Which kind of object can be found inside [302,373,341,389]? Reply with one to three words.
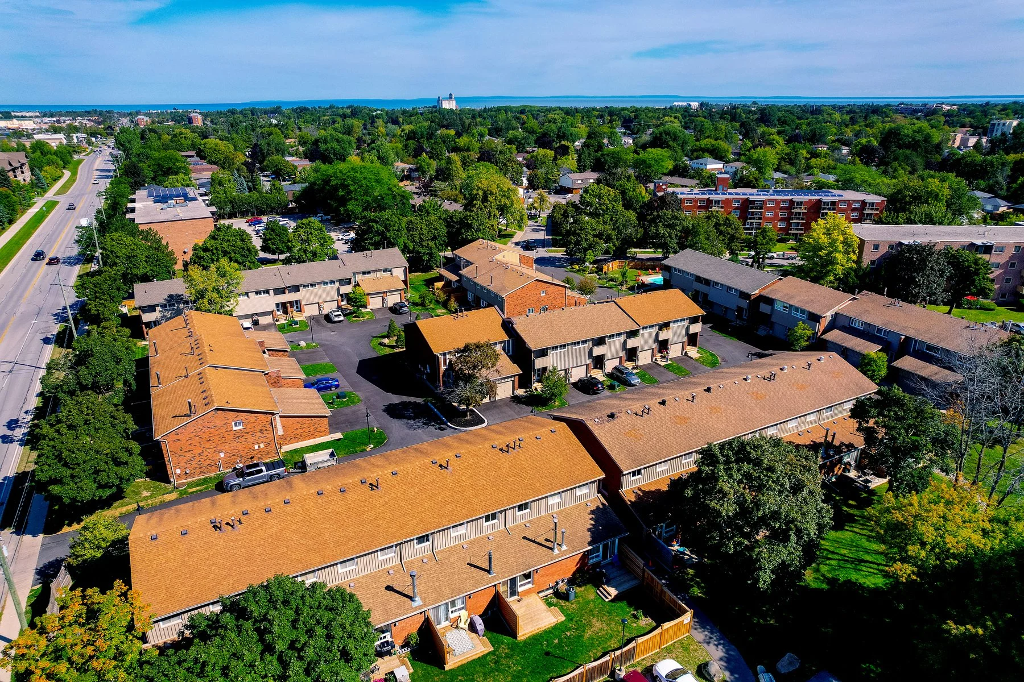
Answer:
car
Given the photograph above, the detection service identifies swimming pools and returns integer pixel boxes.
[638,273,663,289]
